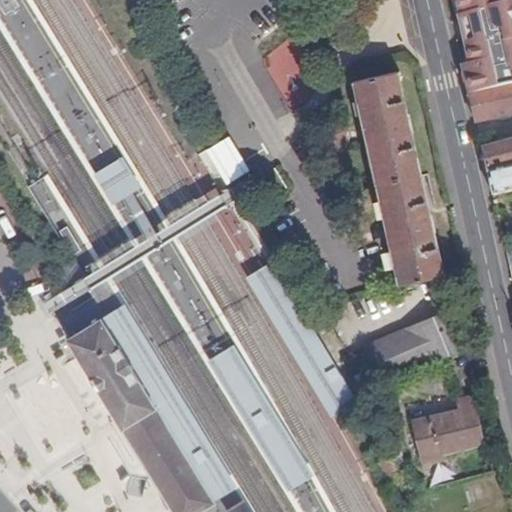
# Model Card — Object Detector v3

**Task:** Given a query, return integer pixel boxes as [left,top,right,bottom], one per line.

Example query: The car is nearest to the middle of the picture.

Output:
[274,217,296,234]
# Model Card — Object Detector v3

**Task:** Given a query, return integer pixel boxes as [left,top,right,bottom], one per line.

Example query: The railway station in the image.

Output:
[0,0,334,512]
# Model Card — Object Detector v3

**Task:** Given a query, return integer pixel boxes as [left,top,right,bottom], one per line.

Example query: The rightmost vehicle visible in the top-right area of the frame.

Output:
[457,120,470,145]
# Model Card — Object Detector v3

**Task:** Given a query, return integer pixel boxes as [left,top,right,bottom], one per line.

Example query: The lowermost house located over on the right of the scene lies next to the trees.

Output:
[411,394,483,465]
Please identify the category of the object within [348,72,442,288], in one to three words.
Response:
building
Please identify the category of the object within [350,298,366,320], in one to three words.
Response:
car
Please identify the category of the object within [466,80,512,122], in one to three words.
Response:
house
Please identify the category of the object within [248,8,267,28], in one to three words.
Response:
car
